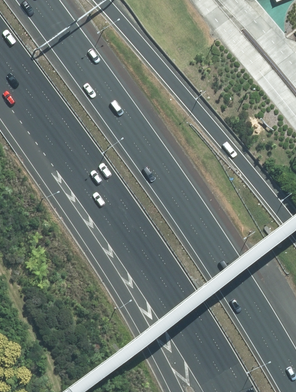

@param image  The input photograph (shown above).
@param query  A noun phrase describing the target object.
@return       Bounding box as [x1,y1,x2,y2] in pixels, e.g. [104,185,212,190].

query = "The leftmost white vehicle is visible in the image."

[3,29,16,45]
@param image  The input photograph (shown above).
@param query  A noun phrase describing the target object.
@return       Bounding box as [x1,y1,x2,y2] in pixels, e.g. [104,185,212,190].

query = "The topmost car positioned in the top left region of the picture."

[21,0,34,16]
